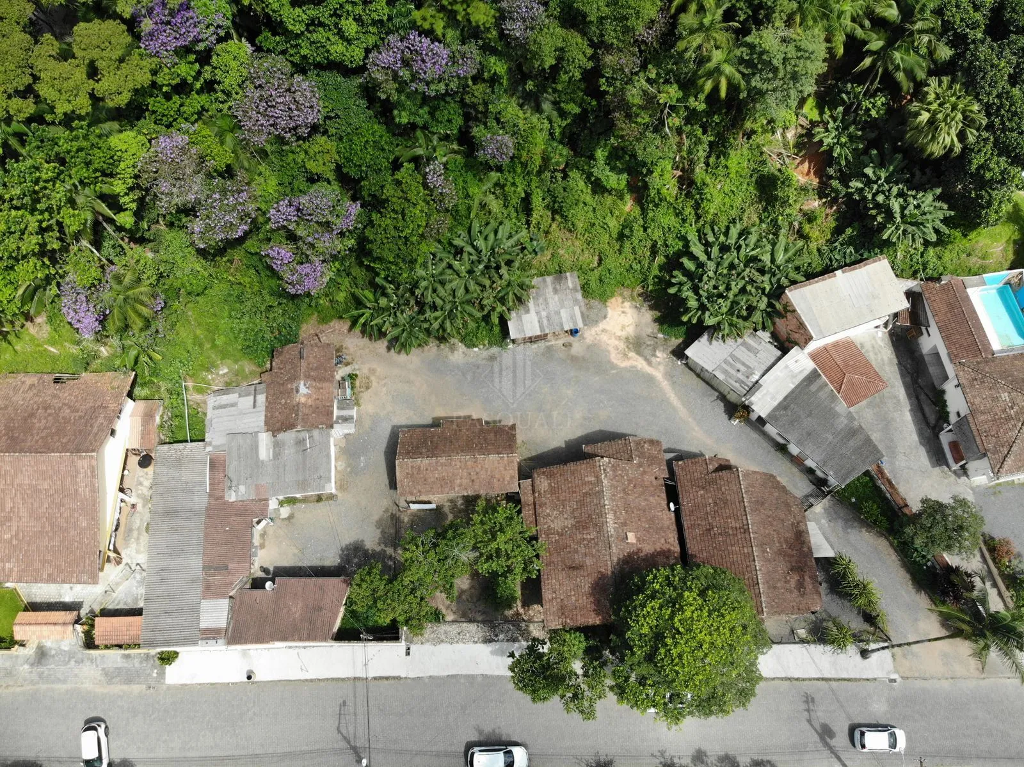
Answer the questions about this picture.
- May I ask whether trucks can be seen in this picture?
No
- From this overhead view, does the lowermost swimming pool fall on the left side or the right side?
right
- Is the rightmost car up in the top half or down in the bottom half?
bottom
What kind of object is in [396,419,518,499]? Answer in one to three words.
house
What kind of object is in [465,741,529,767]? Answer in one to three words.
car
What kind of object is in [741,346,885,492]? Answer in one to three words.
house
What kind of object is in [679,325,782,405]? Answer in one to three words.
shed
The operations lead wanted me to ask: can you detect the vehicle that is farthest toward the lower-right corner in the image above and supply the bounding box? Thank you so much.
[851,725,907,757]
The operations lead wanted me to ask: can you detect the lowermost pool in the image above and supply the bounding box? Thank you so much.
[966,281,1024,357]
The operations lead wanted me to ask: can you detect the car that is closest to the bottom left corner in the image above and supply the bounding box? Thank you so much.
[80,720,116,767]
